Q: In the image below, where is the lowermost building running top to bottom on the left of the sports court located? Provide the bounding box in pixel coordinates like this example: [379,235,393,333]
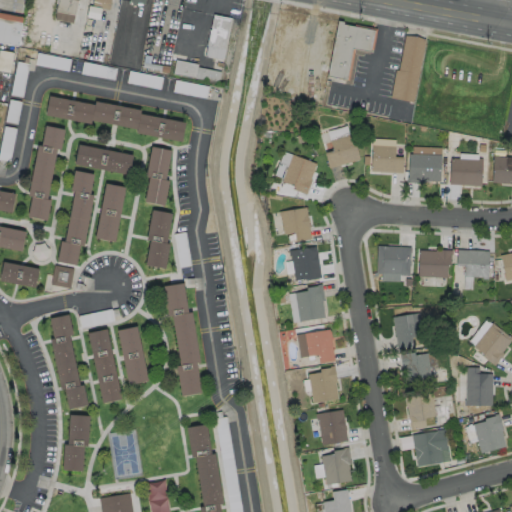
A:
[64,415,90,472]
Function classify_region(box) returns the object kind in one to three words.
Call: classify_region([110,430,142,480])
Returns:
sports court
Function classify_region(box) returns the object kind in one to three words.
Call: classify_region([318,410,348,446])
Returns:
house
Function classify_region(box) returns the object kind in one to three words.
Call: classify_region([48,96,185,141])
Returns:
building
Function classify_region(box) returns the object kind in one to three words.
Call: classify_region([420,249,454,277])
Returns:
house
